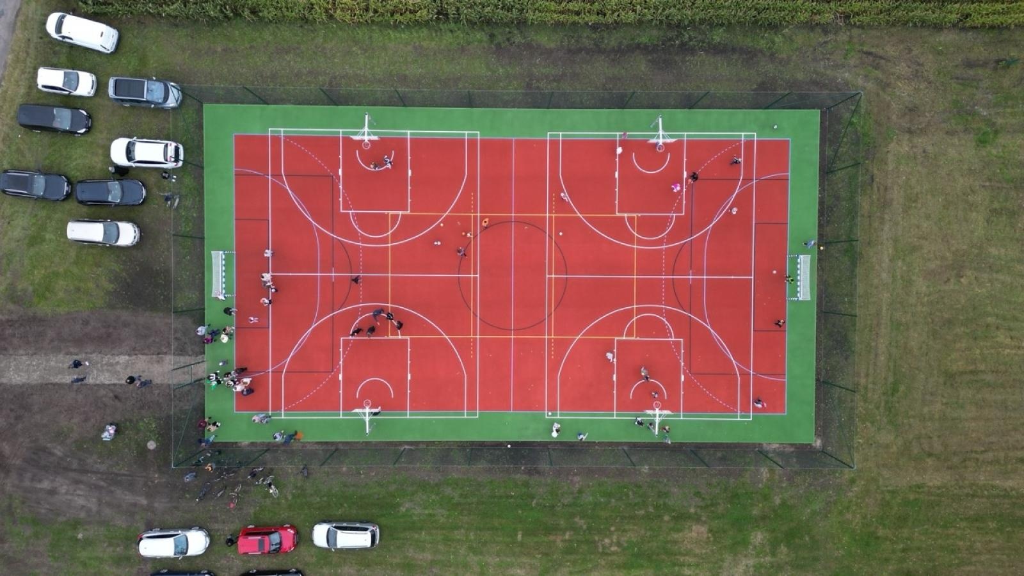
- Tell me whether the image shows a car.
Yes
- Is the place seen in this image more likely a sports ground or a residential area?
sports ground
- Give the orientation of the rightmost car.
horizontally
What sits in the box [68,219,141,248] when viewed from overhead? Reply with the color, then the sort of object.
white car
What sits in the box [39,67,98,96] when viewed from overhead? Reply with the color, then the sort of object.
white car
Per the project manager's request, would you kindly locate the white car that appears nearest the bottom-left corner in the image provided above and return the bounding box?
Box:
[139,527,210,559]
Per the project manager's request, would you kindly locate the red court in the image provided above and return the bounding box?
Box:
[203,104,820,444]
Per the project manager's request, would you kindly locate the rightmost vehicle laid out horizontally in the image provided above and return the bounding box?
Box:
[312,521,380,552]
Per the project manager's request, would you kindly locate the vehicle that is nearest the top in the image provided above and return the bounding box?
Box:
[46,10,121,53]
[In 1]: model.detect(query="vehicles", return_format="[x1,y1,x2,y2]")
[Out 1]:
[242,567,305,576]
[18,104,93,135]
[2,170,72,200]
[78,177,147,206]
[46,10,121,53]
[139,527,210,559]
[68,219,141,248]
[110,77,183,108]
[110,137,184,168]
[312,521,380,552]
[239,525,299,556]
[39,67,98,96]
